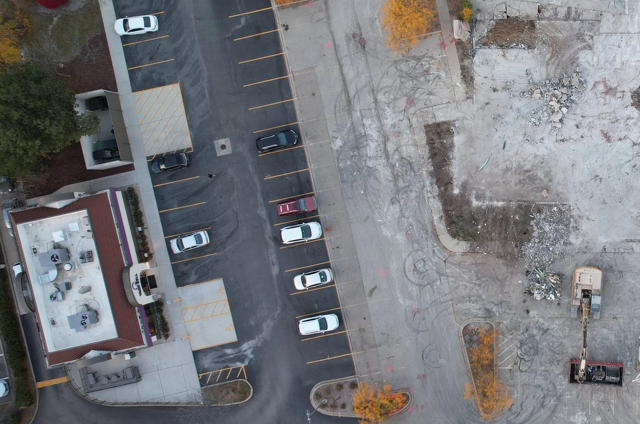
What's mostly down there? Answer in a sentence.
Most of the picture is covered by paved ground.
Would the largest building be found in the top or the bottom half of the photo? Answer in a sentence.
You can find the largest building in the bottom half.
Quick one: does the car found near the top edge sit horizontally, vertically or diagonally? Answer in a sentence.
In this picture, the car found near the top edge lies horizontally.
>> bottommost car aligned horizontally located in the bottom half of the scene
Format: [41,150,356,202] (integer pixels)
[295,314,338,336]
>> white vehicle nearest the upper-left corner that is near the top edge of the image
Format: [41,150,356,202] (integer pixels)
[114,14,157,35]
